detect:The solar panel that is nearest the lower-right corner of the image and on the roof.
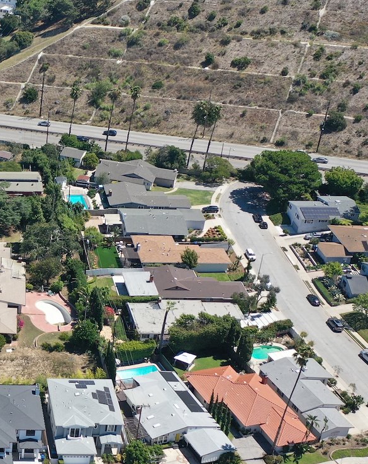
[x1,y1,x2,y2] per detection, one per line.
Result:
[175,391,206,412]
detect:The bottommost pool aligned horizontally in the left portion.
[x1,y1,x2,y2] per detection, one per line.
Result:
[117,365,158,381]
